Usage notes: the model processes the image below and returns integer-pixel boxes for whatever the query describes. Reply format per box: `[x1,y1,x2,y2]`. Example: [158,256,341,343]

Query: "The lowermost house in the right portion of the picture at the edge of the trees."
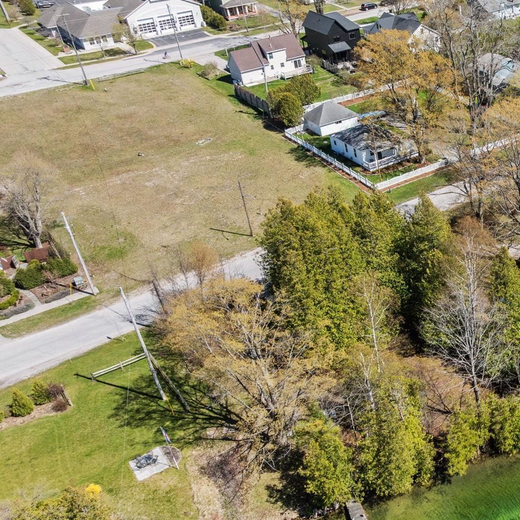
[324,117,422,170]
